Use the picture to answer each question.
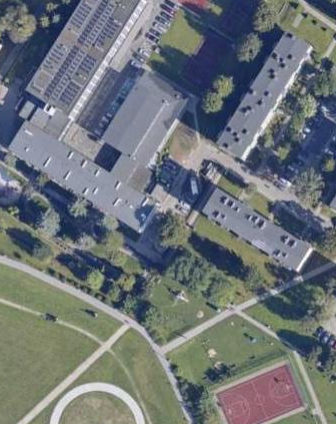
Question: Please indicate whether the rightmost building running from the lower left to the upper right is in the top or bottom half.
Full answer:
The top half of the photo is where the rightmost building running from the lower left to the upper right is.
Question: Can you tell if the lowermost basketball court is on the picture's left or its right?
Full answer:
The lowermost basketball court is on the right side of the image.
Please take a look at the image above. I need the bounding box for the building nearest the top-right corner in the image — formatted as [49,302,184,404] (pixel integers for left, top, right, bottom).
[216,33,313,162]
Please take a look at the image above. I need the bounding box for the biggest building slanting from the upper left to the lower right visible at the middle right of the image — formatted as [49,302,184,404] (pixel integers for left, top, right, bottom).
[202,187,311,274]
